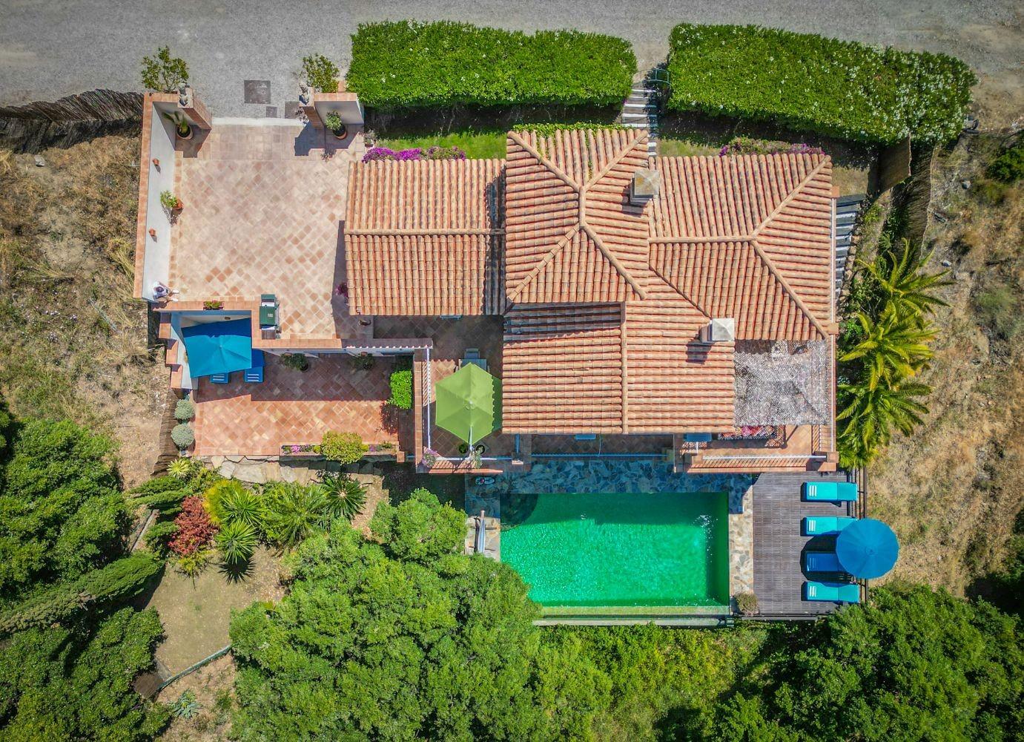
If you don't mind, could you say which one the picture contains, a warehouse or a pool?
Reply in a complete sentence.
There is a pool in the scene.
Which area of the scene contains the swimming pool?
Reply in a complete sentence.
The swimming pool is located in the bottom region of the scene.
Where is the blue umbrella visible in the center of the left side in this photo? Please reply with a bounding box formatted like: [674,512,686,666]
[182,318,252,378]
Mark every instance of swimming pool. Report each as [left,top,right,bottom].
[496,492,730,627]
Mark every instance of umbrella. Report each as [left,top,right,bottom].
[436,362,504,464]
[182,318,252,378]
[825,516,898,580]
